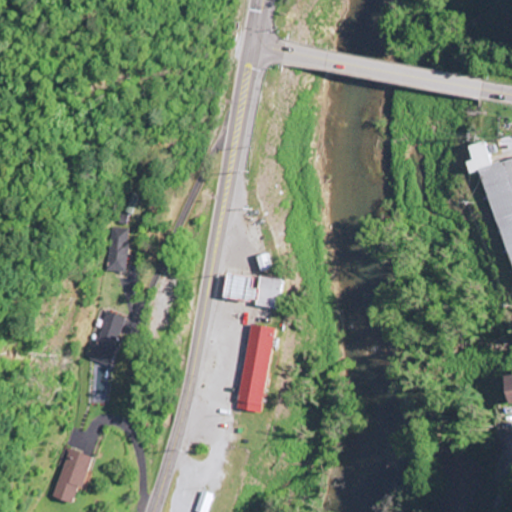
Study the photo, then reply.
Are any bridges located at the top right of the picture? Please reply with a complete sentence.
Yes, a bridge can be seen at the top right of the picture.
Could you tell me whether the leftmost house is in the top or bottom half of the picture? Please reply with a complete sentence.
It is in the bottom half that the leftmost house appears.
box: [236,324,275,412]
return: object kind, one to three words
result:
building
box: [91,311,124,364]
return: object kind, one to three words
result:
house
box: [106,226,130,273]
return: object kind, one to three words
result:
house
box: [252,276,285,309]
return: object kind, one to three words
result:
building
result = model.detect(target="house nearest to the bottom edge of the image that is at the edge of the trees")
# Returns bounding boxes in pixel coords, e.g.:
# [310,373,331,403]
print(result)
[52,448,94,504]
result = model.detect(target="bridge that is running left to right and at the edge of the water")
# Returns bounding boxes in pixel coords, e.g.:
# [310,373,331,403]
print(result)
[282,32,488,108]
